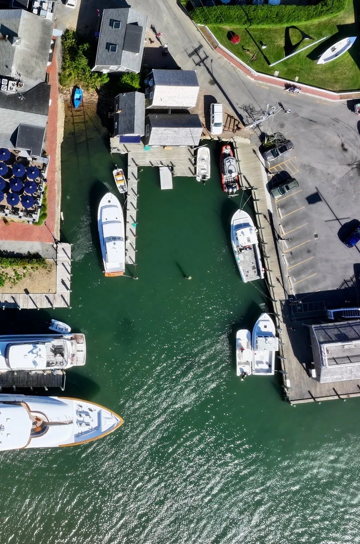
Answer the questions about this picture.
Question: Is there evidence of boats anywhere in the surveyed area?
Yes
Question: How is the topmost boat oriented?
diagonally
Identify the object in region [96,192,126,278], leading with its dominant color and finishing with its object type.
white boat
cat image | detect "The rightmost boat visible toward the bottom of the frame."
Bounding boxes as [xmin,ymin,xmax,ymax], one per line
[252,313,277,375]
